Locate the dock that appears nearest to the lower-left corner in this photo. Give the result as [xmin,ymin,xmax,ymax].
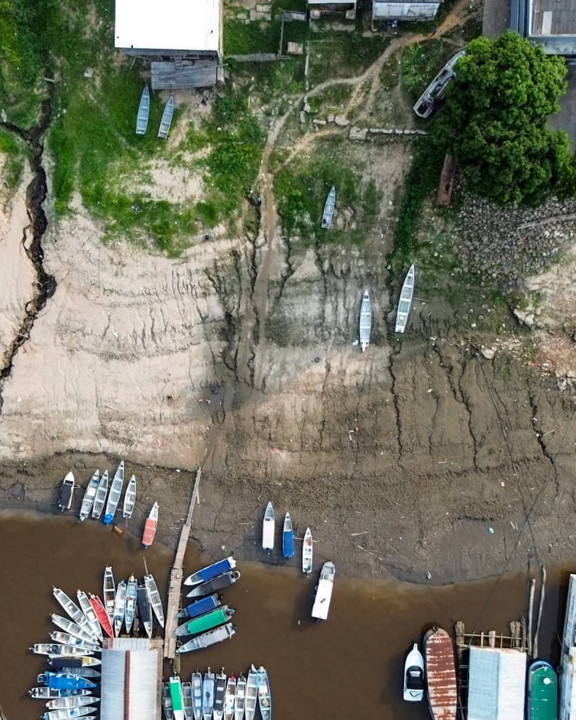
[163,583,182,658]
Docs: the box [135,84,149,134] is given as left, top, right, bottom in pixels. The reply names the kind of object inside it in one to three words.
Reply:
boat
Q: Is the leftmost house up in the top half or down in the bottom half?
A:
bottom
